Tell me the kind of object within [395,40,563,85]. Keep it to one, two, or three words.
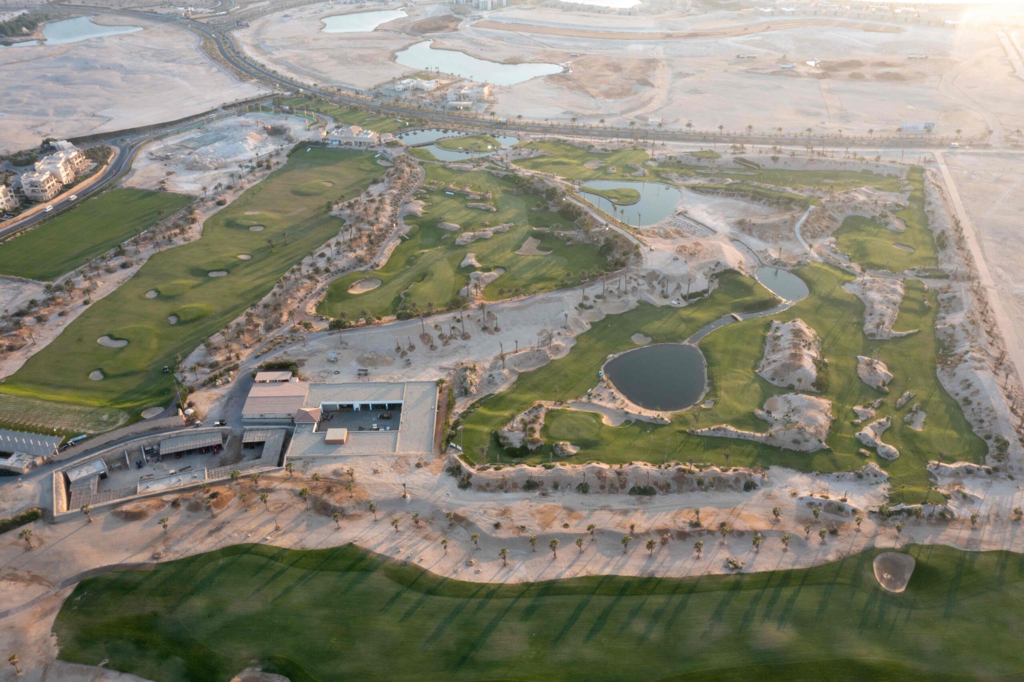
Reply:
pond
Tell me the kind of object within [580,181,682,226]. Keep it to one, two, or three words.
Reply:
pond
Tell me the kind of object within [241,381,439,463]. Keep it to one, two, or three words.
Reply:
building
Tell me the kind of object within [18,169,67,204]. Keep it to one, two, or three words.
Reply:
house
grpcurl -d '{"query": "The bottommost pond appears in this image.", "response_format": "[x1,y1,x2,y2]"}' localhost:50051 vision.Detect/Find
[604,343,706,411]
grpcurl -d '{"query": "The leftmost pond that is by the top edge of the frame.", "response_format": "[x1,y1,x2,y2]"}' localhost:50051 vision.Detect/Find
[0,16,144,47]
